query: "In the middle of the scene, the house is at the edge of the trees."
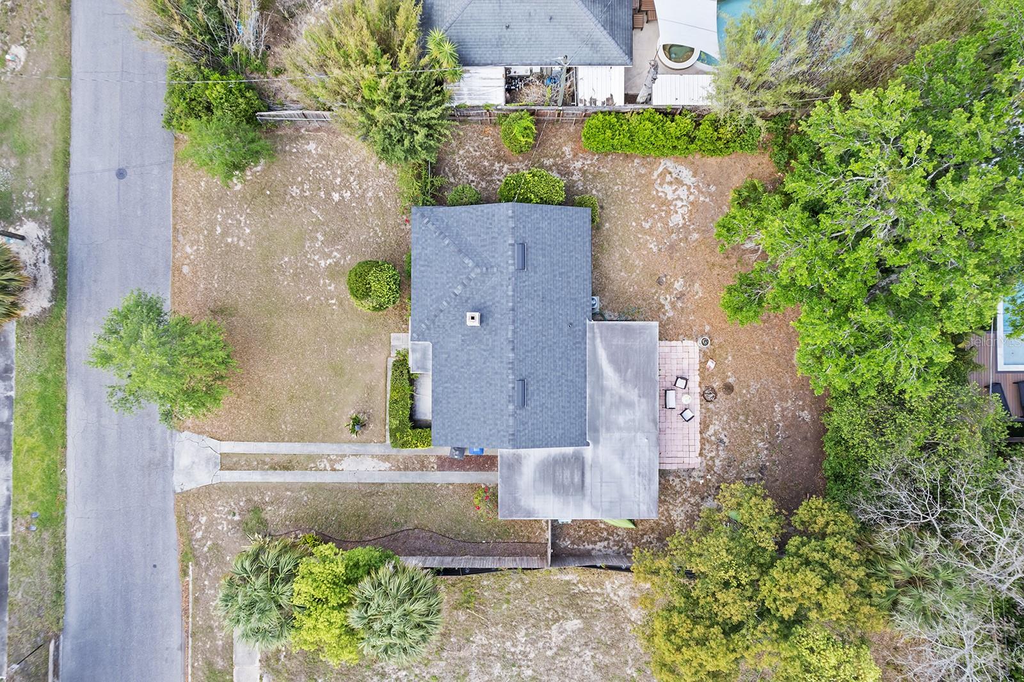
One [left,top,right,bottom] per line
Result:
[409,202,659,519]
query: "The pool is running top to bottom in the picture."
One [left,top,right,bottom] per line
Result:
[994,282,1024,373]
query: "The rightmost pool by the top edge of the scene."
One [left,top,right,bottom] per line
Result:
[696,0,869,73]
